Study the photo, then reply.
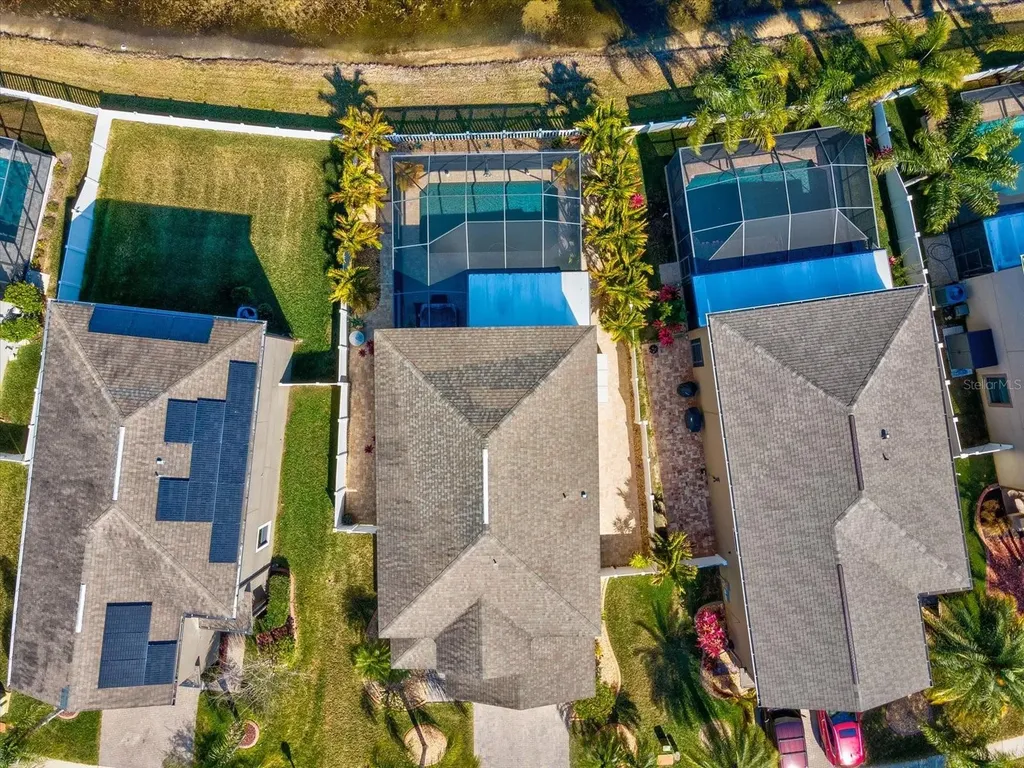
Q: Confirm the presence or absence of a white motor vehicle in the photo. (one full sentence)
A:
No, the frame has no white motor vehicle in it.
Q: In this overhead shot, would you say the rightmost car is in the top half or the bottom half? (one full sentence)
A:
Seen from above, the rightmost car lies in the bottom half of the view.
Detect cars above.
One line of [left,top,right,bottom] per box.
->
[815,706,859,767]
[765,704,808,768]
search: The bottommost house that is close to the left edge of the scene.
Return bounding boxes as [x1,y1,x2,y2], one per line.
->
[8,300,293,710]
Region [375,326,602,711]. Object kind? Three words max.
house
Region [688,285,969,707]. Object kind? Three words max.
house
